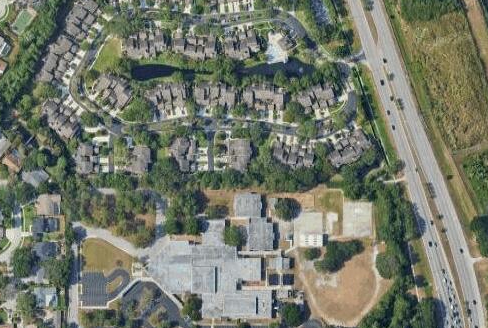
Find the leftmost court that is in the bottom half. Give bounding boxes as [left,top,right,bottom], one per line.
[294,213,322,234]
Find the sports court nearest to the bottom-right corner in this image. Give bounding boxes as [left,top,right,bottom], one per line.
[343,202,372,237]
